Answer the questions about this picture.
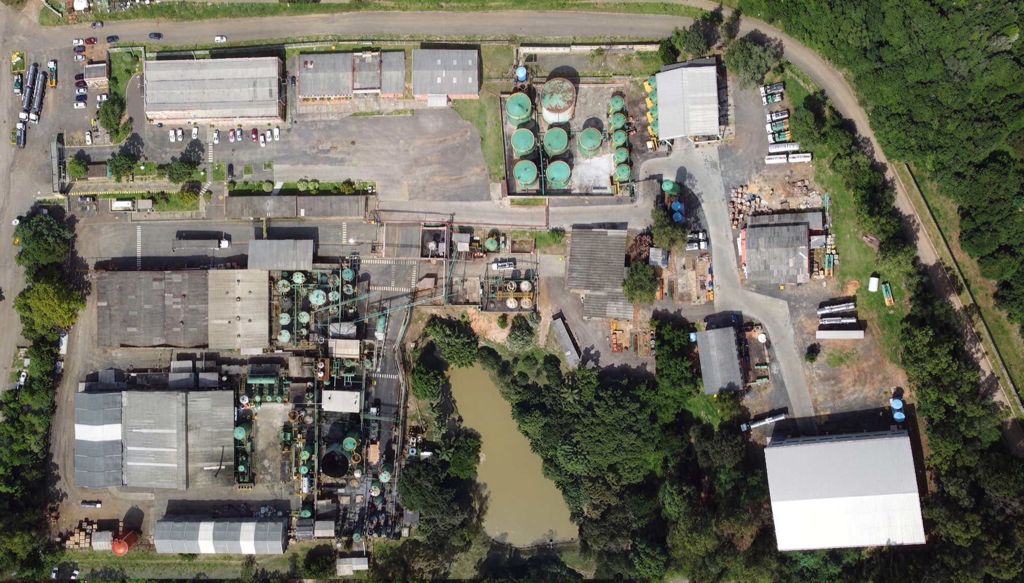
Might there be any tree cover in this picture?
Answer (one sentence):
Yes, there's tree cover in this view.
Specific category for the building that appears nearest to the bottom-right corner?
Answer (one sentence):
Looking closely, the building that appears nearest to the bottom-right corner is a warehouse.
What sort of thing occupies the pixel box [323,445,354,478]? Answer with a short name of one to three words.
storage tank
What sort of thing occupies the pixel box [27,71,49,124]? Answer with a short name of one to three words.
truck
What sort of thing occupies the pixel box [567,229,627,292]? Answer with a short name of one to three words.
building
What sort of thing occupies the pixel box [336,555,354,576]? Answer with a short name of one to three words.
shed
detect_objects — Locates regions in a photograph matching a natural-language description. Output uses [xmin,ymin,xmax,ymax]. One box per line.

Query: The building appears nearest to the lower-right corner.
[752,424,926,551]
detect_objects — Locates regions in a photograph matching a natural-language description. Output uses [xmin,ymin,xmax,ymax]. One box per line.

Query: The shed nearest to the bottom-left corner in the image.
[91,528,118,550]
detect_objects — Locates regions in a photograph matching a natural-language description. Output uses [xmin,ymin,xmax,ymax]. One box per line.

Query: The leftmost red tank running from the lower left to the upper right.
[110,528,146,558]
